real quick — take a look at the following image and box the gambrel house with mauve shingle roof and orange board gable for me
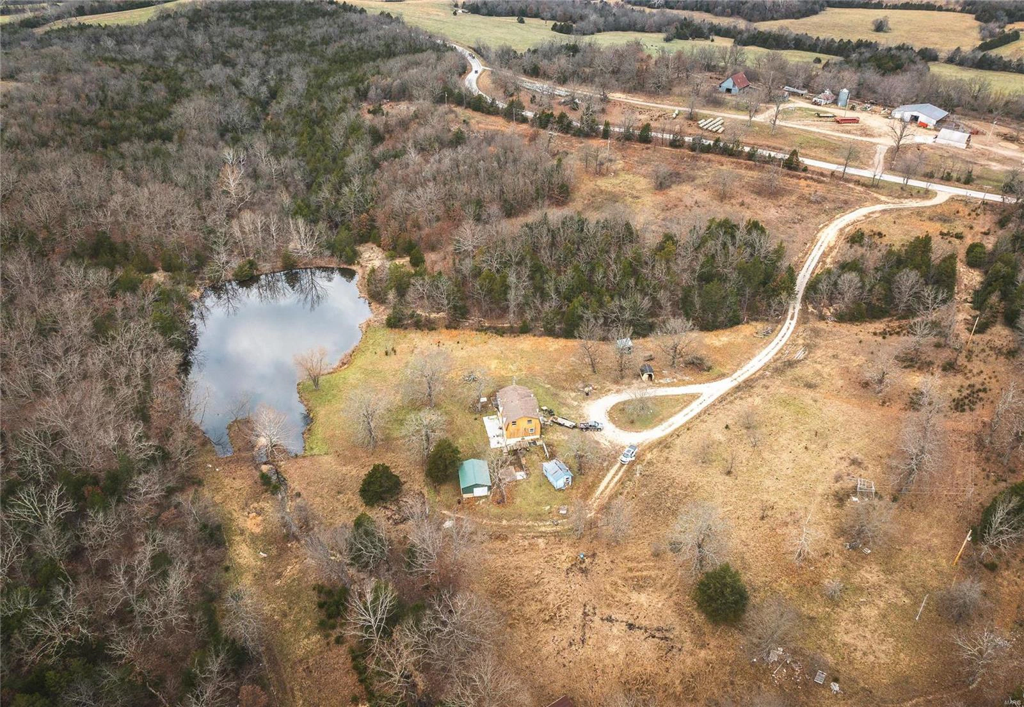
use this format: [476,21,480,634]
[489,382,543,453]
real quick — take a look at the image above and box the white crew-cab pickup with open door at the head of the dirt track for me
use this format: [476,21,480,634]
[617,442,640,464]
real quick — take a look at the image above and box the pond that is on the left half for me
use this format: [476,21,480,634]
[184,267,371,465]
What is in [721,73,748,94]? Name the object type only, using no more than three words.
barn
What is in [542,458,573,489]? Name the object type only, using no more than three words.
shed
